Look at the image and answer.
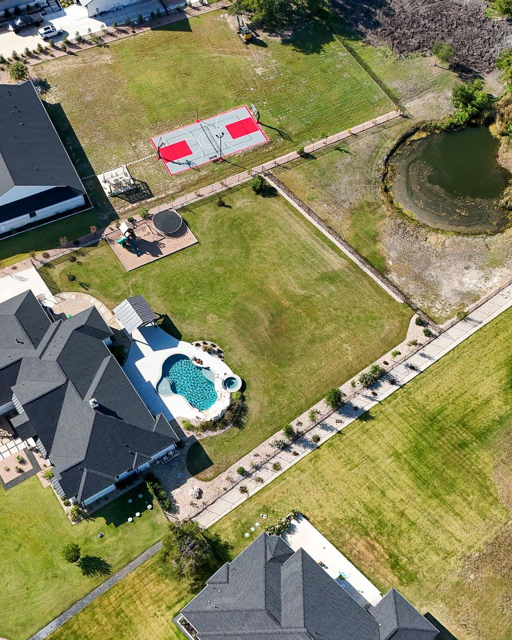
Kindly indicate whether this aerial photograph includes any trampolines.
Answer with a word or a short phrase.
Yes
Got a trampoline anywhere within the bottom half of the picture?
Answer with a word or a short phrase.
No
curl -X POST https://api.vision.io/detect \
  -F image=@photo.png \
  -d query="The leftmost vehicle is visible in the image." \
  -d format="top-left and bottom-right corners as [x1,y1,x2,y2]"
[9,12,42,32]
